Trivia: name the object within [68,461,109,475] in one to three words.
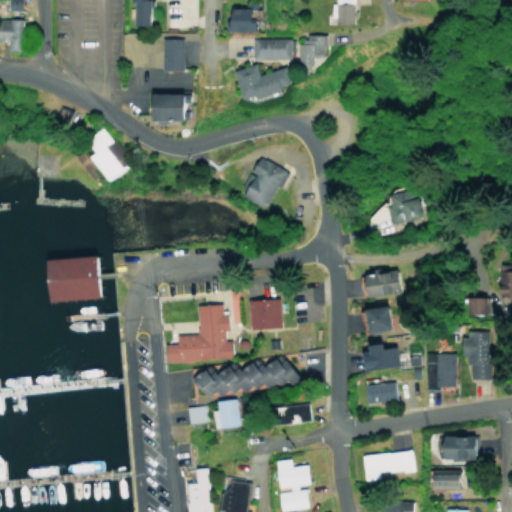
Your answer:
boat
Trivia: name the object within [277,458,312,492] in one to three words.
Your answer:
house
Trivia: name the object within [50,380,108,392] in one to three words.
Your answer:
pier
